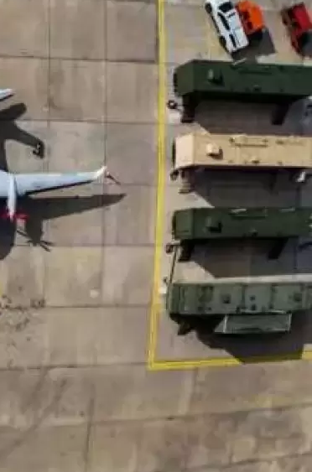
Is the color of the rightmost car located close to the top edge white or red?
red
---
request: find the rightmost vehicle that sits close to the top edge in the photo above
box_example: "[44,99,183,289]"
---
[281,2,312,61]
